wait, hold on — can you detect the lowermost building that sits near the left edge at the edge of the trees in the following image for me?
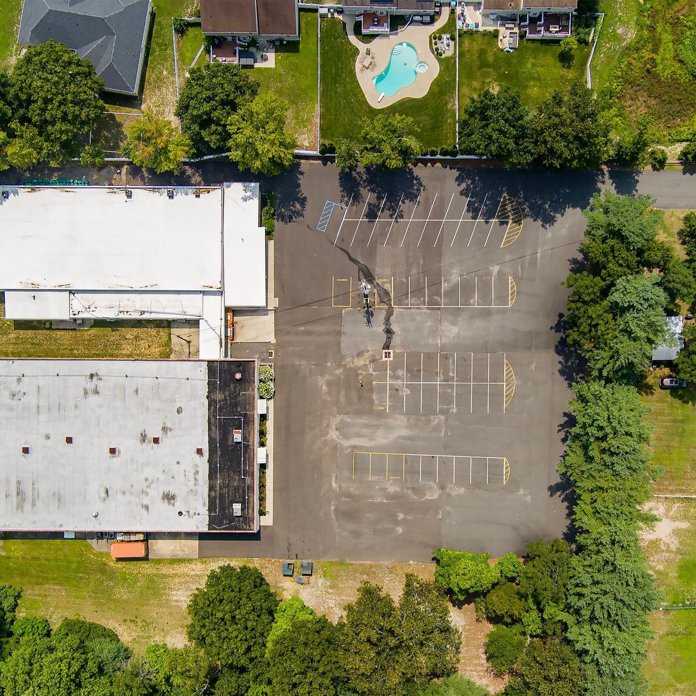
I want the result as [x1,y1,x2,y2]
[0,359,260,533]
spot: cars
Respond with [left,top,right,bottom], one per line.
[660,377,688,389]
